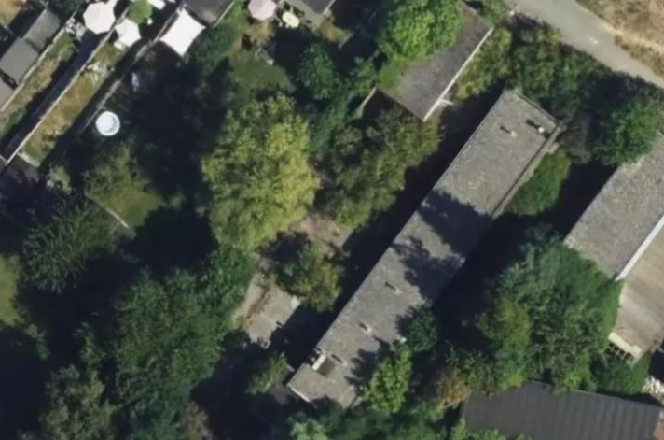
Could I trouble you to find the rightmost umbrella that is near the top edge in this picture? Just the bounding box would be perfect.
[248,0,276,21]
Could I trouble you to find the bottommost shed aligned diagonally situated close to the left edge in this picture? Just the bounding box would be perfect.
[9,155,38,184]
